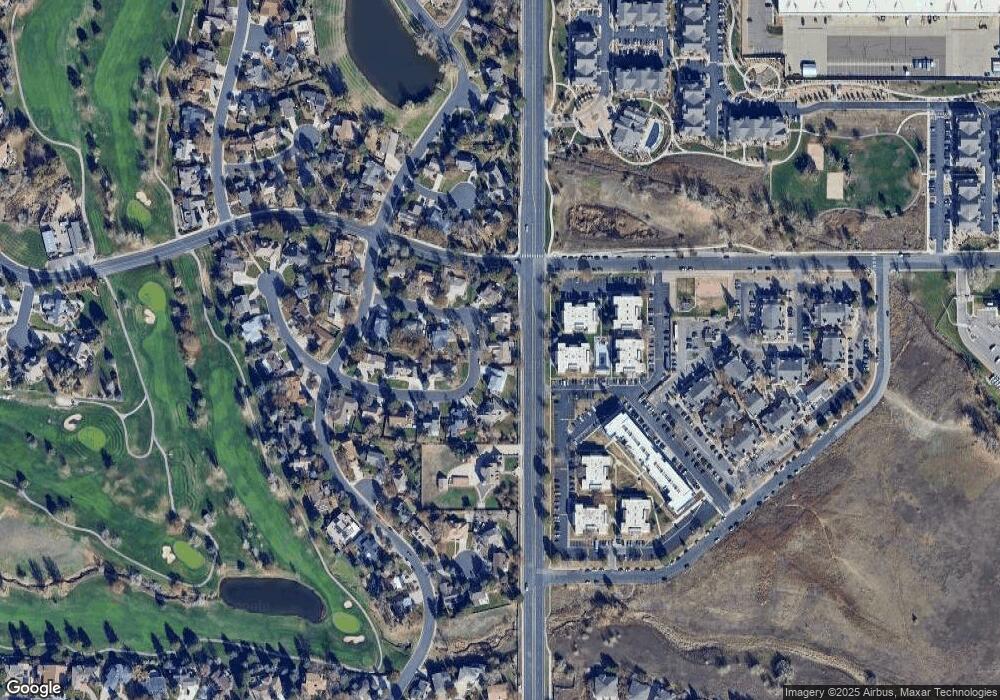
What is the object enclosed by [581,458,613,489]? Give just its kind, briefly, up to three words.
building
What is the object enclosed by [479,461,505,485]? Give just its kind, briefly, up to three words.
house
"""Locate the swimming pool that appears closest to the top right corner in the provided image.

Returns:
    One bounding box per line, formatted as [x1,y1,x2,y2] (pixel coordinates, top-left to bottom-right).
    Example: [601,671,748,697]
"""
[640,118,664,151]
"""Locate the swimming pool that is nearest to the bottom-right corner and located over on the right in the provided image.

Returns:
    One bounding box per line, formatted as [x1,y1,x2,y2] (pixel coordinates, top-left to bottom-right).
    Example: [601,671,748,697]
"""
[595,337,610,370]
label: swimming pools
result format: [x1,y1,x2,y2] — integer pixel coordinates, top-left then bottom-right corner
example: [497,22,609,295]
[595,337,610,370]
[640,118,664,151]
